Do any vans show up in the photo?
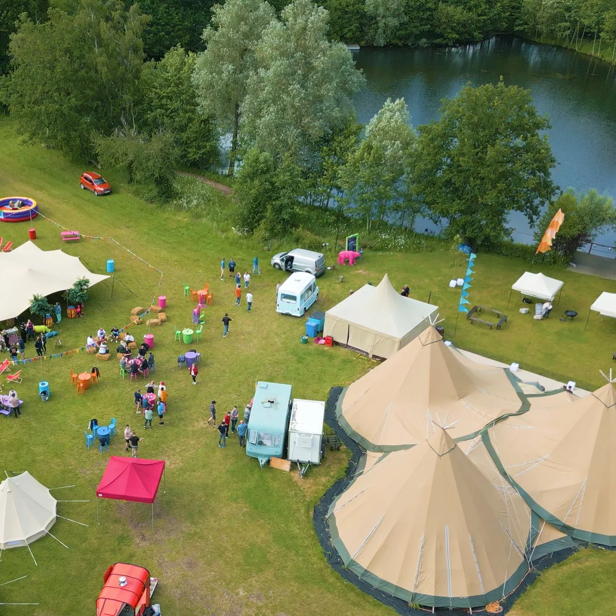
Yes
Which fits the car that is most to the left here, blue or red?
red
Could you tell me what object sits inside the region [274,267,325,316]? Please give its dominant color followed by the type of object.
white van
